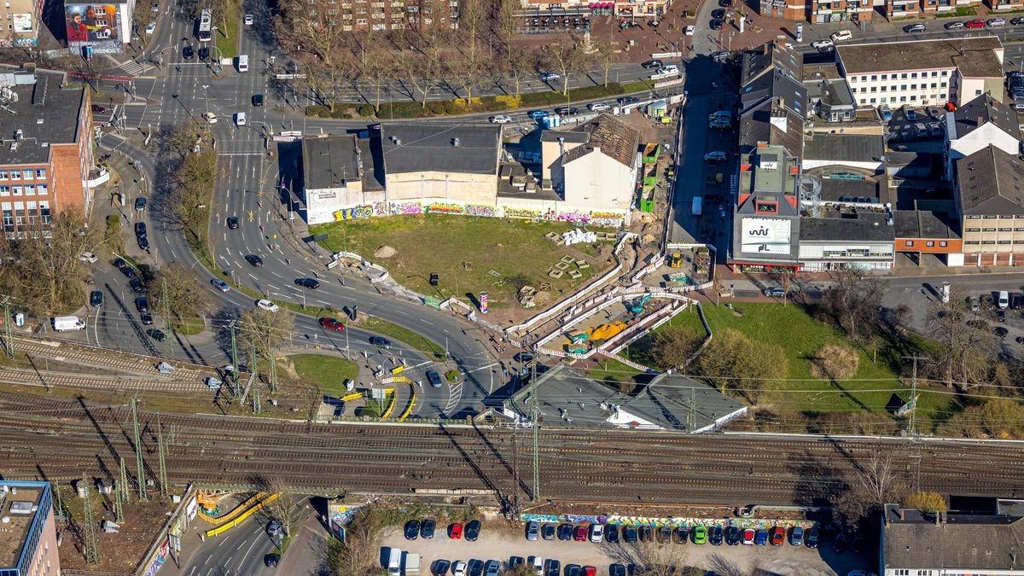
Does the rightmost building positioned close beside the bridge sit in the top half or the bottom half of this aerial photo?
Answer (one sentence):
Seen from above, the rightmost building positioned close beside the bridge lies in the bottom half of the view.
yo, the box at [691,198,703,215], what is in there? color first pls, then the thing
blue vehicle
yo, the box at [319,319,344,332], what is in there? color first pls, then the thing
red vehicle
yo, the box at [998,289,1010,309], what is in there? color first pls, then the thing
white vehicle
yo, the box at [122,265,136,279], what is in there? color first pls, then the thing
black car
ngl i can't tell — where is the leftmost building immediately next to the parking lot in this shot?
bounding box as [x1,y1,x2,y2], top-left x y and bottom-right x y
[512,363,746,436]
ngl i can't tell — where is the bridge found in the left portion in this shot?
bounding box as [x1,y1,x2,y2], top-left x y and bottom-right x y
[189,410,483,524]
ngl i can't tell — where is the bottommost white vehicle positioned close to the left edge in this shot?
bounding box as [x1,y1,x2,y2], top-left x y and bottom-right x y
[51,316,86,333]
